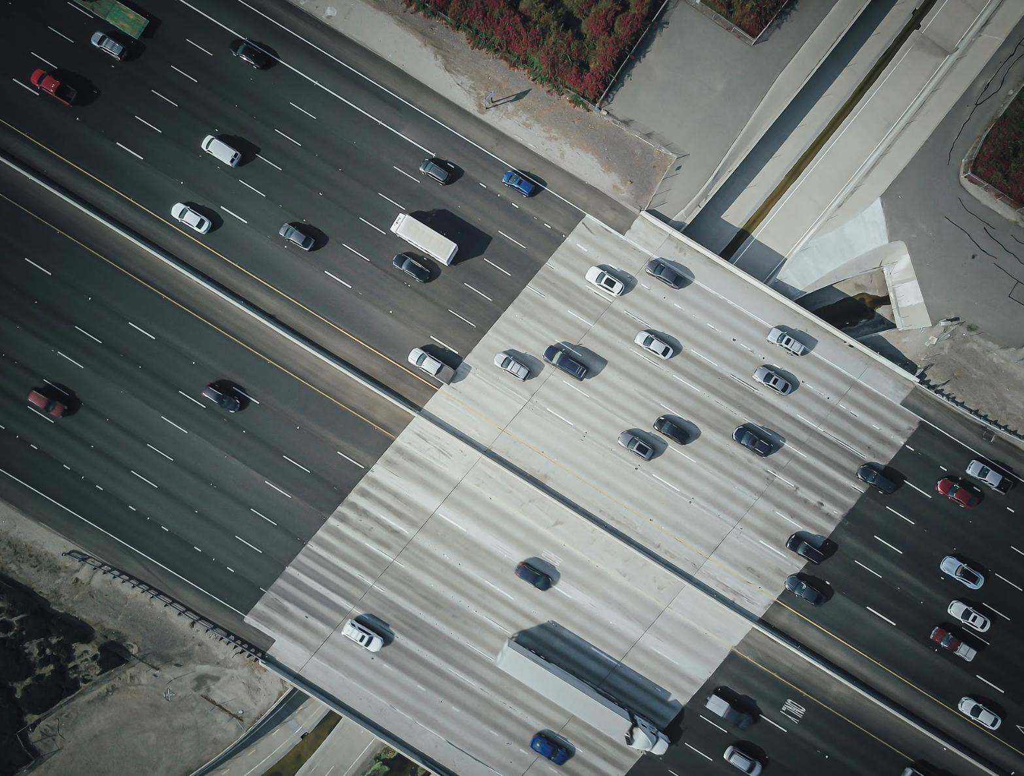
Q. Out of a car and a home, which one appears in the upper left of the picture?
car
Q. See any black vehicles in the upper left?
Yes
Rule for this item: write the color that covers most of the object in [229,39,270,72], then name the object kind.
black car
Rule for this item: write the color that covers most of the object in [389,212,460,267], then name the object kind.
white truck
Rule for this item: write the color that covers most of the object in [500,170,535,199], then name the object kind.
blue car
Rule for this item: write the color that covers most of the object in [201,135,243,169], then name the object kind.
white vehicle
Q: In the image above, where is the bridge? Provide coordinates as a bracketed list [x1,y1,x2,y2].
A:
[245,212,921,776]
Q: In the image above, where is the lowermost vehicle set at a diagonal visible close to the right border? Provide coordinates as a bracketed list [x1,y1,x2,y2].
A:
[956,696,1000,729]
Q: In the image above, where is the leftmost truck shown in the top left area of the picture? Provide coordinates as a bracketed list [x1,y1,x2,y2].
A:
[29,66,80,106]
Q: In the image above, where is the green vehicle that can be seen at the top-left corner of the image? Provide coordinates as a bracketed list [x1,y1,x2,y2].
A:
[74,0,150,40]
